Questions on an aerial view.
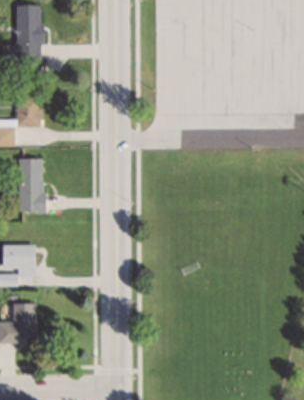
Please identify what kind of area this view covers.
sports ground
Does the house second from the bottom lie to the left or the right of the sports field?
left of it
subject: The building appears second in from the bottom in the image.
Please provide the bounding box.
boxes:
[0,244,36,288]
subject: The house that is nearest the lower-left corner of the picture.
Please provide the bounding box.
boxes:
[0,304,36,355]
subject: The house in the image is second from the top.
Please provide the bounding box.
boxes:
[0,90,44,147]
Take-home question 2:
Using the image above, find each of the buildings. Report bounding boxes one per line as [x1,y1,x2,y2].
[14,5,44,61]
[0,244,36,288]
[0,90,44,147]
[0,304,36,355]
[18,159,46,214]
